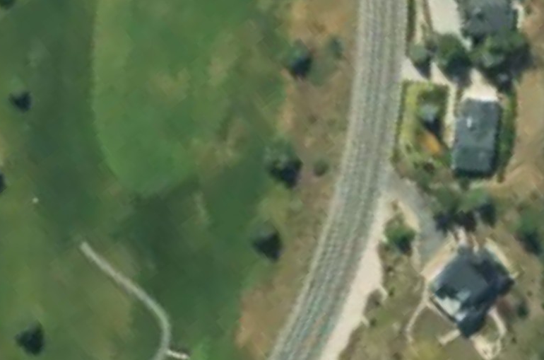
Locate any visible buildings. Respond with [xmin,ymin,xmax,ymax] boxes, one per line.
[455,97,505,178]
[460,0,526,40]
[431,240,522,339]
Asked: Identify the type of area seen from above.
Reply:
golf course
